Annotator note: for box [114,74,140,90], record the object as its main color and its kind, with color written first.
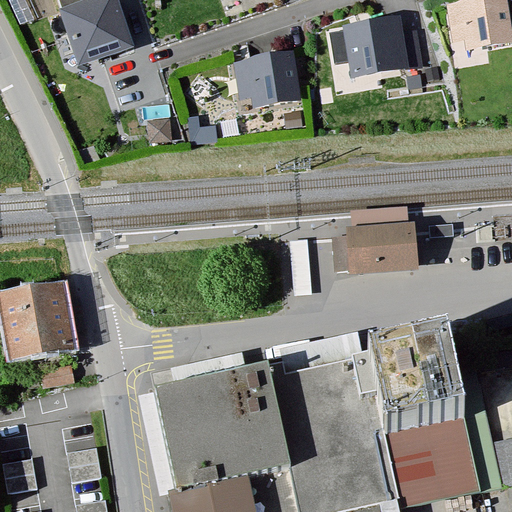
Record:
black car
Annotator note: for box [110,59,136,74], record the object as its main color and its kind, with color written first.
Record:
red car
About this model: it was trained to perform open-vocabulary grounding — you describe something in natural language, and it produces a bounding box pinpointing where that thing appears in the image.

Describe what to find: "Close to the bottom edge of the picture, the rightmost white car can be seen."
[78,490,104,504]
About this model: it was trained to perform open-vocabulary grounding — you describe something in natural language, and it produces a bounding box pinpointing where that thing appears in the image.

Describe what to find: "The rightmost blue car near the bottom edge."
[75,480,100,494]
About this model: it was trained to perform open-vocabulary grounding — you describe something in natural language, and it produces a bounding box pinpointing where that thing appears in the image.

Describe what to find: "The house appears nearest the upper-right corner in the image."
[446,0,512,53]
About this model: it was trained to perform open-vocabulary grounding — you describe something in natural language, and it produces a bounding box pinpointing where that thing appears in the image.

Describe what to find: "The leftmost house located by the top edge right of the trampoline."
[60,0,135,64]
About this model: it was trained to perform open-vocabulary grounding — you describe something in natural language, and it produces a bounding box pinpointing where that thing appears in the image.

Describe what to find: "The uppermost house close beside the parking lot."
[0,279,80,364]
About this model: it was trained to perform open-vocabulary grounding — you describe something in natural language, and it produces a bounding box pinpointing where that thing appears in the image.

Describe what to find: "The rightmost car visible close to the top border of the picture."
[289,24,303,49]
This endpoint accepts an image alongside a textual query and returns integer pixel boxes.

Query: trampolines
[49,18,66,34]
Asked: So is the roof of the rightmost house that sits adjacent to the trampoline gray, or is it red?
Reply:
gray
